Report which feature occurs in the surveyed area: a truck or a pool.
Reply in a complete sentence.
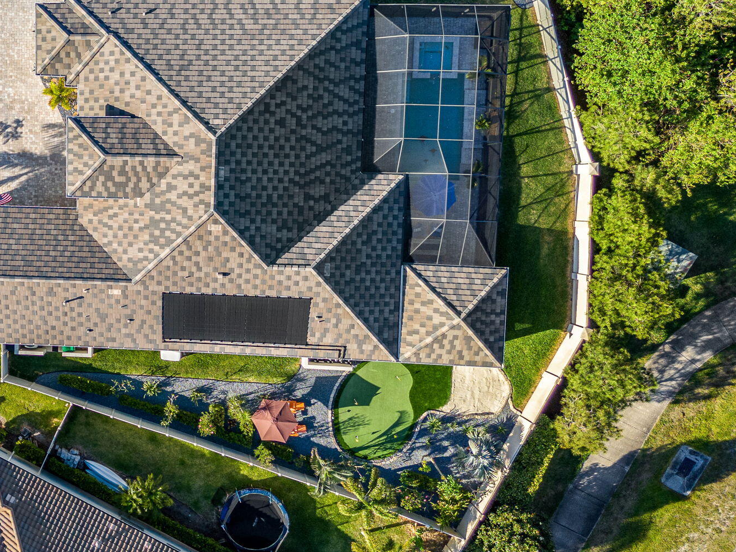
There is a pool in the scene.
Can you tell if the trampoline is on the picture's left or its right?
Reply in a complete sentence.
It is on the left.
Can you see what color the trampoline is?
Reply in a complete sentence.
From above, the trampoline appears black.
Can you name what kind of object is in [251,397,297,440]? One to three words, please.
umbrella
